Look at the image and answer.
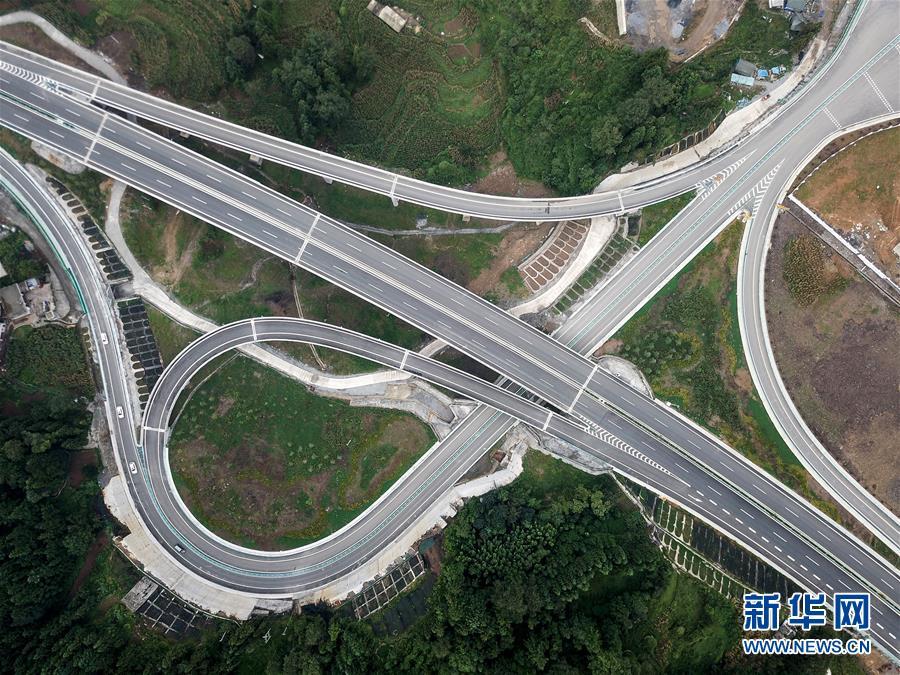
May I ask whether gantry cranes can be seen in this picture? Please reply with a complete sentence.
No, the photo shows no gantry crane.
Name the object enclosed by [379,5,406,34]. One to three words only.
shed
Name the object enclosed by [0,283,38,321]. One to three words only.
house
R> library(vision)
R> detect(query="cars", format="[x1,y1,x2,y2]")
[129,461,136,474]
[115,406,122,418]
[173,543,184,554]
[100,332,107,345]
